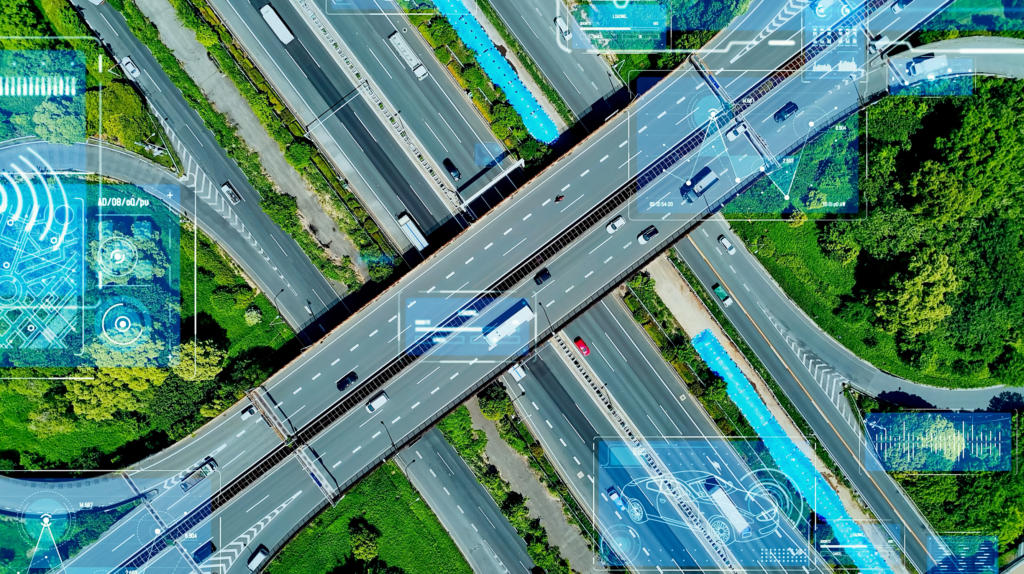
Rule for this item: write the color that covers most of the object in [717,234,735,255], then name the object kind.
white car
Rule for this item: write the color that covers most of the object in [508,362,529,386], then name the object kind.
white truck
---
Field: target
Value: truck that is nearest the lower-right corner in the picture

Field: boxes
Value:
[707,480,752,536]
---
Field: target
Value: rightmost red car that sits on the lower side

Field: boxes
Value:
[573,336,591,356]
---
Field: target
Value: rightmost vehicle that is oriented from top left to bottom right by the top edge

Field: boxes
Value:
[554,16,572,40]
